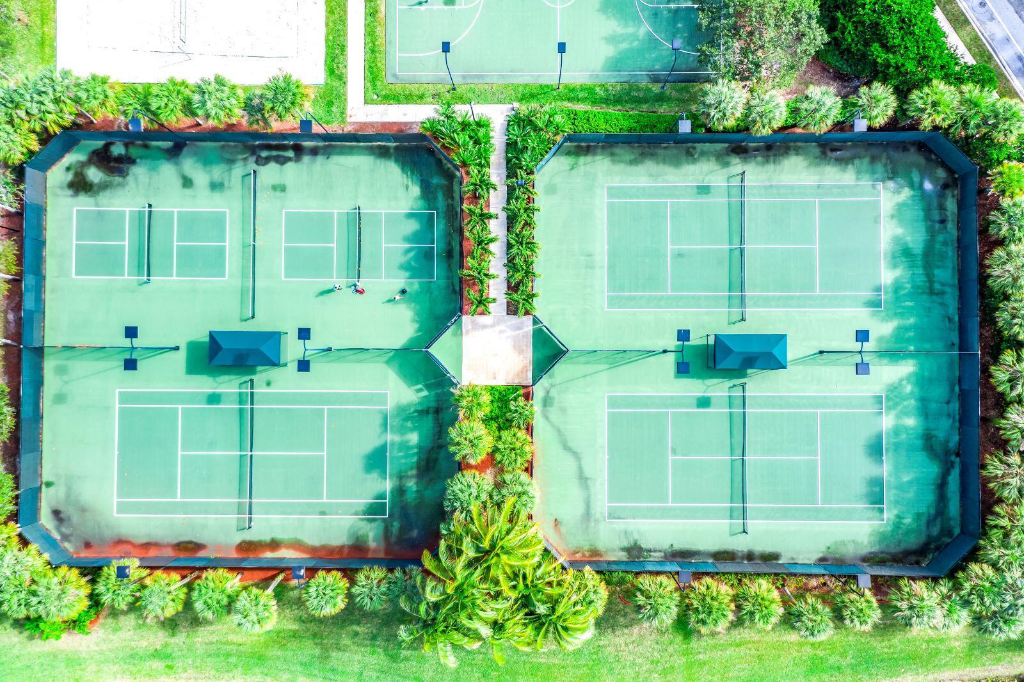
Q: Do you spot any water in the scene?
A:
No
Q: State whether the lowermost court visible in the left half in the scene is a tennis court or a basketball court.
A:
tennis court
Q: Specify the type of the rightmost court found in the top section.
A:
tennis court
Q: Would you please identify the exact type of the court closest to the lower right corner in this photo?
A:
tennis court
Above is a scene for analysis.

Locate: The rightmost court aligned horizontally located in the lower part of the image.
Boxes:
[606,394,886,522]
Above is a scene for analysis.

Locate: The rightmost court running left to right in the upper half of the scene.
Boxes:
[606,182,883,310]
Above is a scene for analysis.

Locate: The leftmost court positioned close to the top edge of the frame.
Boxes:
[56,0,325,84]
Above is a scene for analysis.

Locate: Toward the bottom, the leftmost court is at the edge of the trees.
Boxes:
[114,389,389,517]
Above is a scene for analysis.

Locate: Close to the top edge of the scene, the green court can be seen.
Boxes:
[397,0,723,74]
